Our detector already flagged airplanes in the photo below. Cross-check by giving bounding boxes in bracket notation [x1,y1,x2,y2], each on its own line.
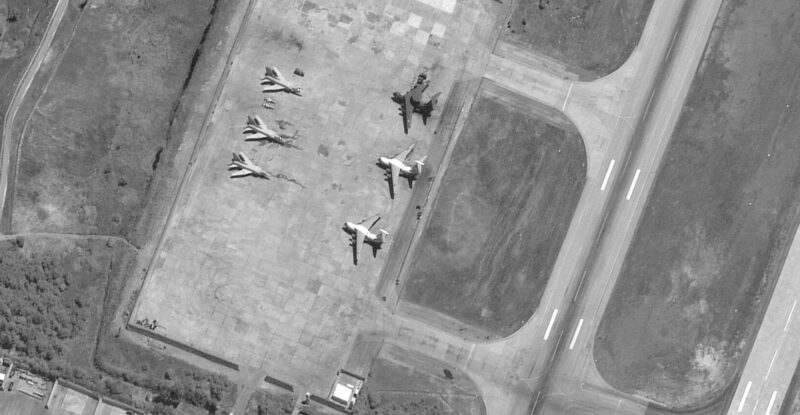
[260,67,302,96]
[244,116,285,144]
[346,210,392,257]
[395,79,441,127]
[228,151,270,179]
[380,143,428,191]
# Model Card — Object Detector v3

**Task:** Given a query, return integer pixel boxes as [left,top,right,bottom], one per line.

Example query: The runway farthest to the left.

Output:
[498,0,722,415]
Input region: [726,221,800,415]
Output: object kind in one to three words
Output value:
runway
